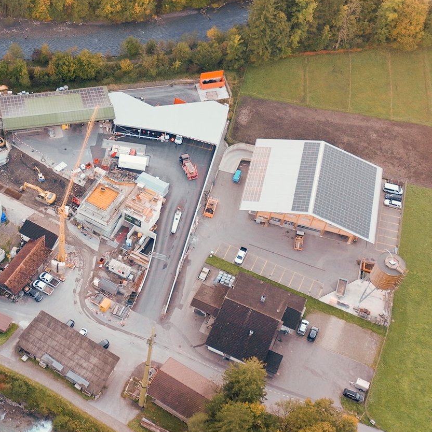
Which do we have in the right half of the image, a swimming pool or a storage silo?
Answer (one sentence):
It is a storage silo that can be seen in the right half of the image.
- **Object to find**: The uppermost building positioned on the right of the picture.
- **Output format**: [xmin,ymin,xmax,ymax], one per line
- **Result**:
[240,137,381,249]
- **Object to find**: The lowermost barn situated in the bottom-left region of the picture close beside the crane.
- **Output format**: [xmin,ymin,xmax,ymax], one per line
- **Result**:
[18,311,120,397]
